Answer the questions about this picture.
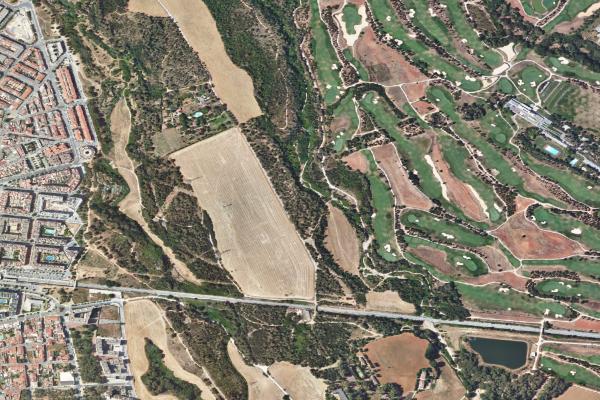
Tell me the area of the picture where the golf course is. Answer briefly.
right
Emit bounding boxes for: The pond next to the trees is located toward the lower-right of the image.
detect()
[465,333,530,372]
